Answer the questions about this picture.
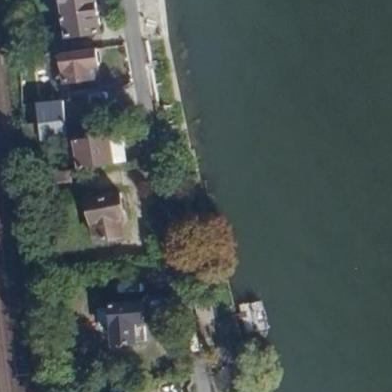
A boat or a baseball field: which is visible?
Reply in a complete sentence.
Looking from above, you can make out a boat.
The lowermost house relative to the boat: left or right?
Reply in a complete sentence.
From the viewer's perspective, the lowermost house falls to the left of the boat.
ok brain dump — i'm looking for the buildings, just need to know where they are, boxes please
[58,0,107,41]
[107,296,152,344]
[72,137,128,171]
[56,46,106,84]
[84,185,131,240]
[34,100,68,142]
[54,170,74,185]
